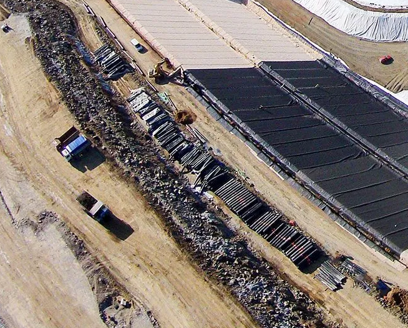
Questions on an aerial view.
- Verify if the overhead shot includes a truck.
Yes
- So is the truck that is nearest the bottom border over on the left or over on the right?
left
